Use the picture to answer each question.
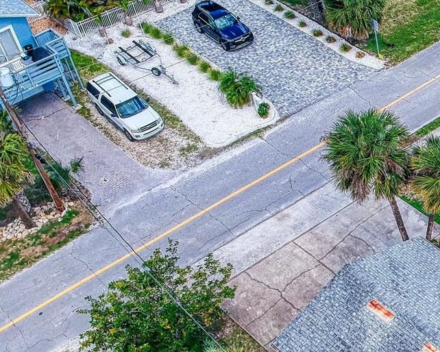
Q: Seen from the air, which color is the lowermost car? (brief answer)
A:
white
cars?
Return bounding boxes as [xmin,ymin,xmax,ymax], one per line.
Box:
[187,0,258,52]
[84,67,169,142]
